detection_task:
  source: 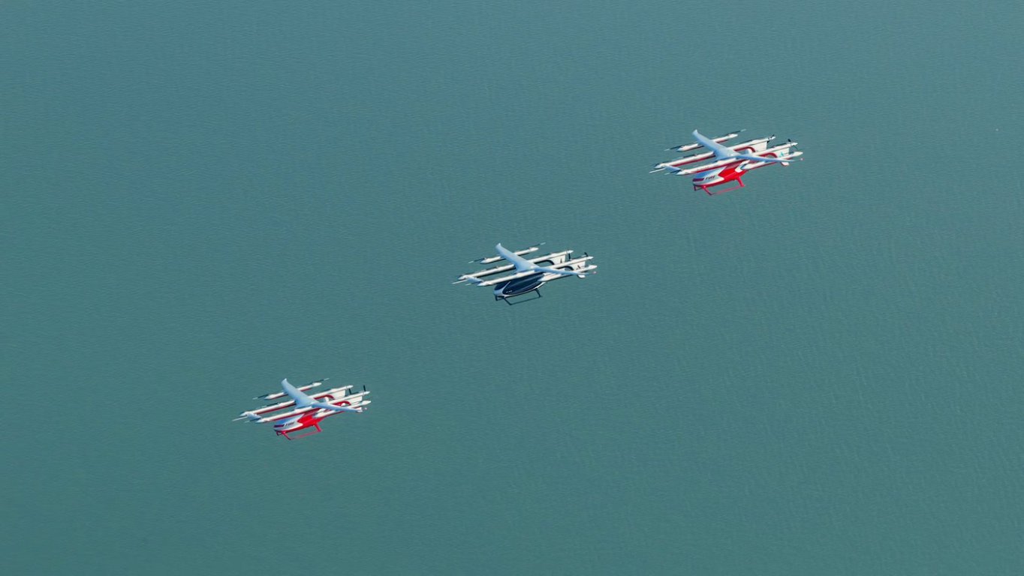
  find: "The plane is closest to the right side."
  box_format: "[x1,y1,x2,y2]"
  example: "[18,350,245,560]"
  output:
[645,129,809,196]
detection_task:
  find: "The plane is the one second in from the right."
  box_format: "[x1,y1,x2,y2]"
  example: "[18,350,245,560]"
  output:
[447,243,604,306]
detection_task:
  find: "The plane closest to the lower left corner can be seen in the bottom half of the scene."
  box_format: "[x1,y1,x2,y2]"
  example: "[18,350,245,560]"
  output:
[228,378,379,440]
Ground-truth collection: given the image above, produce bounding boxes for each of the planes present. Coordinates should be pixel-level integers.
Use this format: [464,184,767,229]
[228,378,379,440]
[447,243,604,306]
[645,129,809,196]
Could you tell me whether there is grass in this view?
No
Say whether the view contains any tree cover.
No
